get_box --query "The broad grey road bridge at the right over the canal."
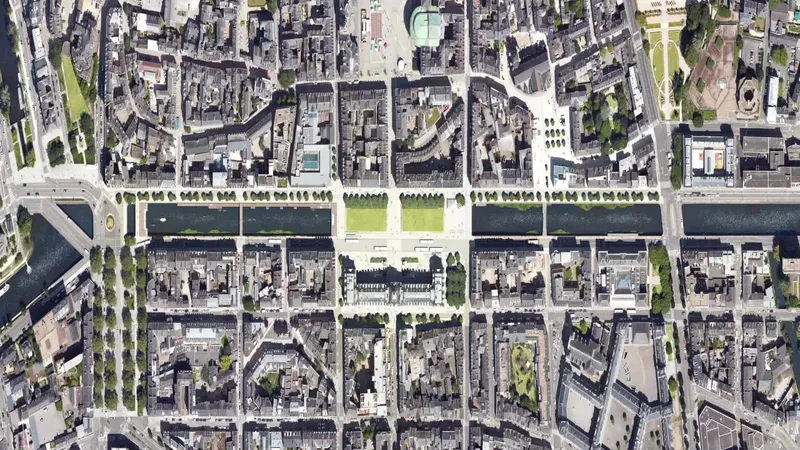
[661,203,684,238]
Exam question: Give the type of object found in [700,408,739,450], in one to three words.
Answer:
building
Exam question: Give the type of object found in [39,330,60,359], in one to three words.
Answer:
building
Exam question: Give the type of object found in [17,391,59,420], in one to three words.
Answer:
house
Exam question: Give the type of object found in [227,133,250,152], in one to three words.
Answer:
house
